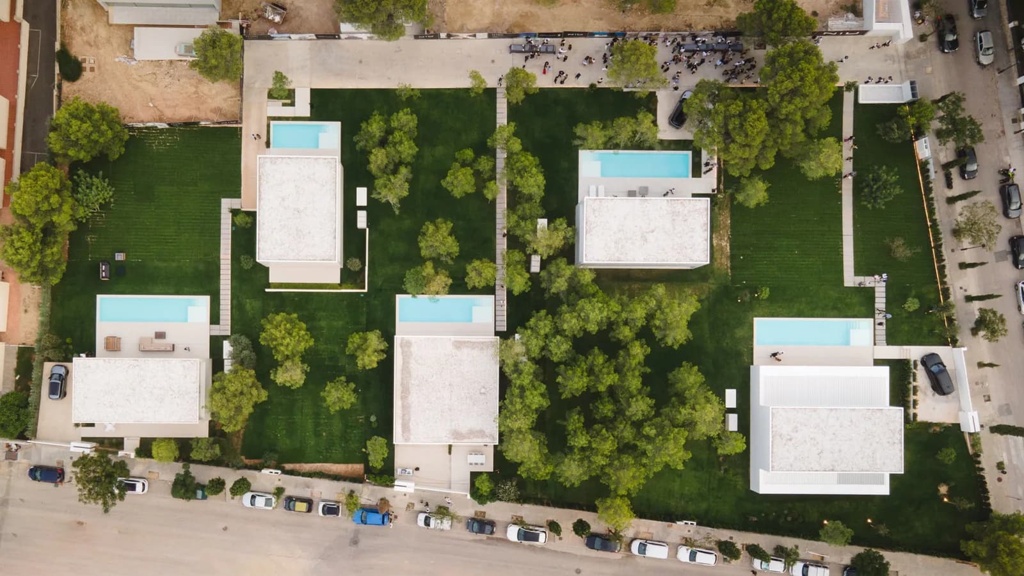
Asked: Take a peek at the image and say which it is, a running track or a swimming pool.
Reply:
swimming pool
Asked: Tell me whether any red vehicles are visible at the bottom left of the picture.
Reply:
No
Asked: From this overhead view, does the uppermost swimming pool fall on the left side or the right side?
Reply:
left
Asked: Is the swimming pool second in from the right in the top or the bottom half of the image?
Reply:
top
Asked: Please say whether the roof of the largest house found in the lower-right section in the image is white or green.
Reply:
white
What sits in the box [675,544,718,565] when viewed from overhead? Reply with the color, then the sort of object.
white car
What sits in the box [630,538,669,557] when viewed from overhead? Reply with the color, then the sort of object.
white car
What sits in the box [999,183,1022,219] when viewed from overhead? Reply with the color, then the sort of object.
gray car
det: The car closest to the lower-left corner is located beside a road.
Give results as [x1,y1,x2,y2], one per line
[29,466,66,483]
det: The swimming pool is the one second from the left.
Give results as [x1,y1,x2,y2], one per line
[271,122,341,156]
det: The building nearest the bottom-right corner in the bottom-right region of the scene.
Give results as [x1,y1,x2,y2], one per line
[948,410,980,431]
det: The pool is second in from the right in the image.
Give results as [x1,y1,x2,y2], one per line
[578,150,692,199]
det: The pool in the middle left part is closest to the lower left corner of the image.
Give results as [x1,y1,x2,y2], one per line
[97,295,210,357]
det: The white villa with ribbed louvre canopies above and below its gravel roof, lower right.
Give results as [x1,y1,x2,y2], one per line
[749,365,903,494]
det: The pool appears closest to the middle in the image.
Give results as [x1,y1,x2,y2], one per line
[396,295,495,336]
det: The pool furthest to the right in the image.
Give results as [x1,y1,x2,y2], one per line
[753,318,874,365]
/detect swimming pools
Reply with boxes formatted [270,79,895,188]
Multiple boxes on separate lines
[97,295,210,357]
[396,295,495,336]
[753,318,874,365]
[271,122,341,156]
[578,150,692,199]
